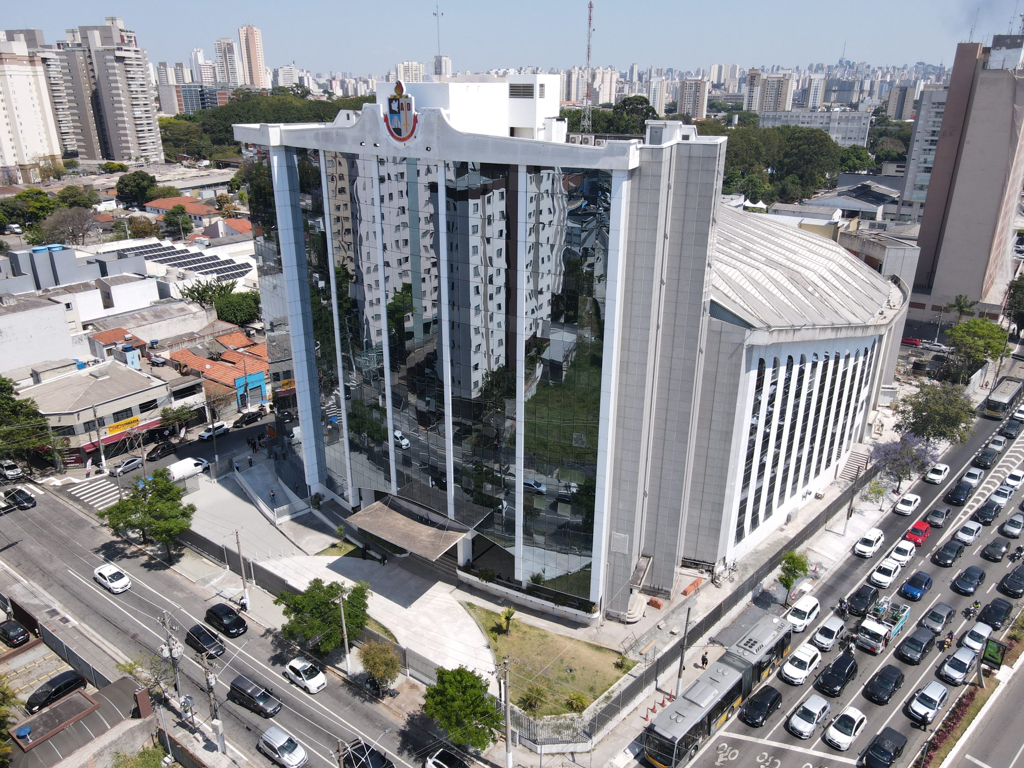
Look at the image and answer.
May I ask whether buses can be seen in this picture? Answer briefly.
Yes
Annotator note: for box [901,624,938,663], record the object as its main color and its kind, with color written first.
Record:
gray car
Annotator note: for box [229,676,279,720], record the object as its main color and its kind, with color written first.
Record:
gray car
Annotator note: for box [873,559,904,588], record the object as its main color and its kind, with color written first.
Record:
white car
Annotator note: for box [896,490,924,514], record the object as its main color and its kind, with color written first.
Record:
white car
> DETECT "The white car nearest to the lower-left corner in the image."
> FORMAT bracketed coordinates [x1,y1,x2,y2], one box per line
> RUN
[90,565,129,595]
